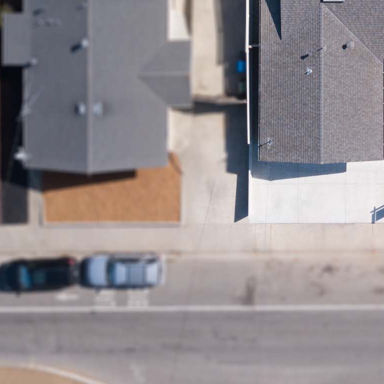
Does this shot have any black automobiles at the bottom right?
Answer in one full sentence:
No, I can find no black automobile at the bottom right.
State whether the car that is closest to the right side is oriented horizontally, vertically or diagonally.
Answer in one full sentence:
Seen from above, the car that is closest to the right side lies horizontally.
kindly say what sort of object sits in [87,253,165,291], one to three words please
car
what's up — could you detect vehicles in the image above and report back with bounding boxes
[1,256,77,296]
[87,253,165,291]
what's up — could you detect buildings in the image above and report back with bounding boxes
[257,0,384,164]
[3,0,195,194]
